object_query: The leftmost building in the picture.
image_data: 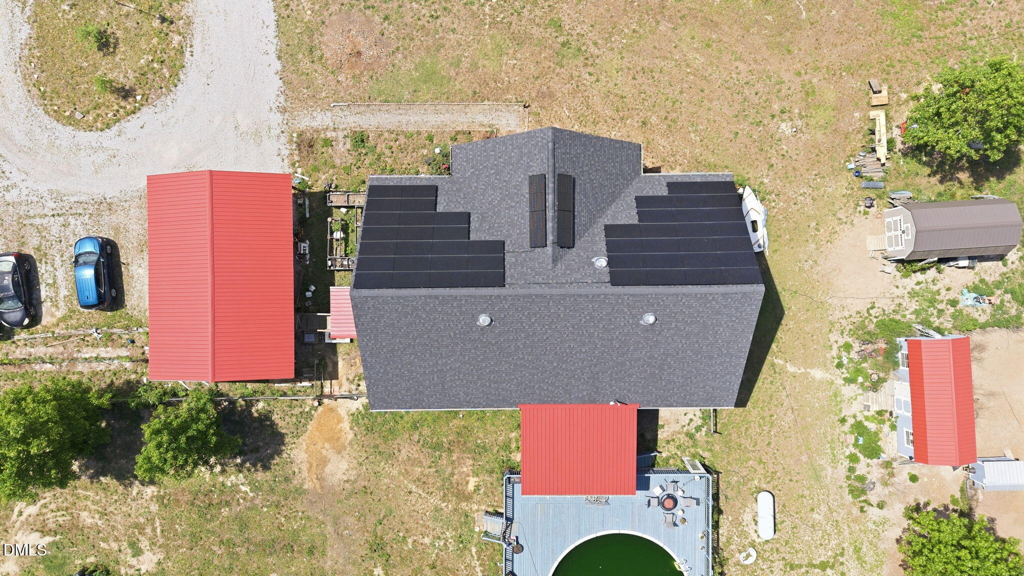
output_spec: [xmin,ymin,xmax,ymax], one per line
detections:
[146,170,306,386]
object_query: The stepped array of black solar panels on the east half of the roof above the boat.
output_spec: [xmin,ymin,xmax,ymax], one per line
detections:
[602,181,760,284]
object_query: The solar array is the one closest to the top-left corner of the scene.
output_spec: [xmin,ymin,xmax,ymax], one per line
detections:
[352,184,505,287]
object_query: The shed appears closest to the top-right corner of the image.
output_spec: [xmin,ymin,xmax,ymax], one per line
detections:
[881,196,1023,262]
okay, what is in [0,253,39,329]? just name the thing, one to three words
car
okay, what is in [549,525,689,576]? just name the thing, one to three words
swimming pool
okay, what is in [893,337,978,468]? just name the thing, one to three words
shed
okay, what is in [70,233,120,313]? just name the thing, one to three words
car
